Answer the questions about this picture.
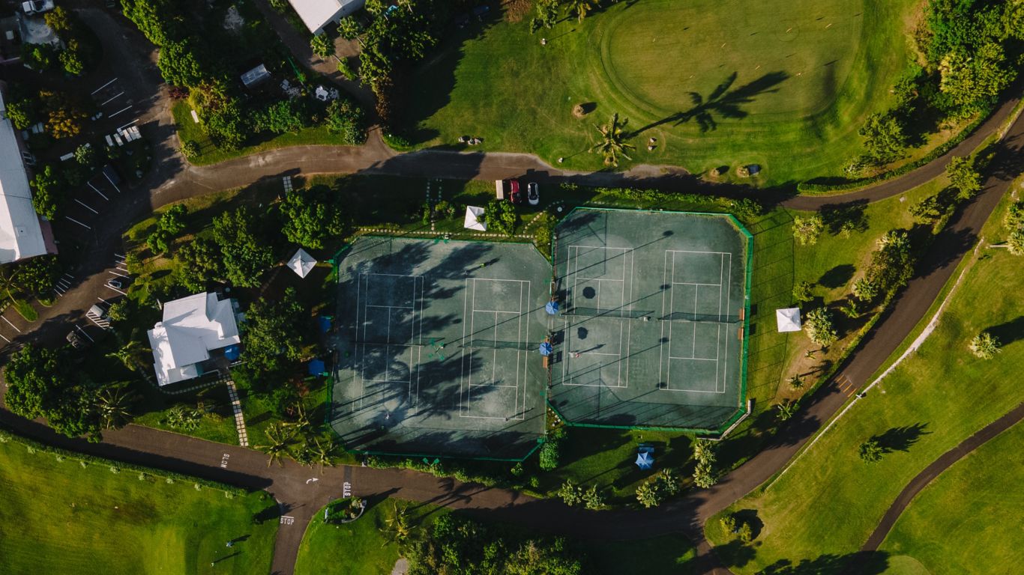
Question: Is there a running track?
No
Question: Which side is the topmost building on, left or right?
left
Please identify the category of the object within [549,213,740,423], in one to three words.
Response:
tennis court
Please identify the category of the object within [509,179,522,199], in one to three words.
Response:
vehicle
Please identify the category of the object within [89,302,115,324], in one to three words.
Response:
car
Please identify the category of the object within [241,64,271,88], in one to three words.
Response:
shed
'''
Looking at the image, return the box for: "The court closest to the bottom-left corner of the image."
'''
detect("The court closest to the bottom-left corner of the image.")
[333,240,548,455]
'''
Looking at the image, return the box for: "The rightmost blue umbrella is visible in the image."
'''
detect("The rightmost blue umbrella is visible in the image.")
[636,450,653,467]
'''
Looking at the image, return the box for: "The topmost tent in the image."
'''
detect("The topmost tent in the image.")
[464,206,486,231]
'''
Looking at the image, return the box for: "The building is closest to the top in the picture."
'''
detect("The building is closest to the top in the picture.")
[292,0,359,36]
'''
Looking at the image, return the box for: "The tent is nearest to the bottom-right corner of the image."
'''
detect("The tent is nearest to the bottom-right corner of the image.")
[773,308,801,332]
